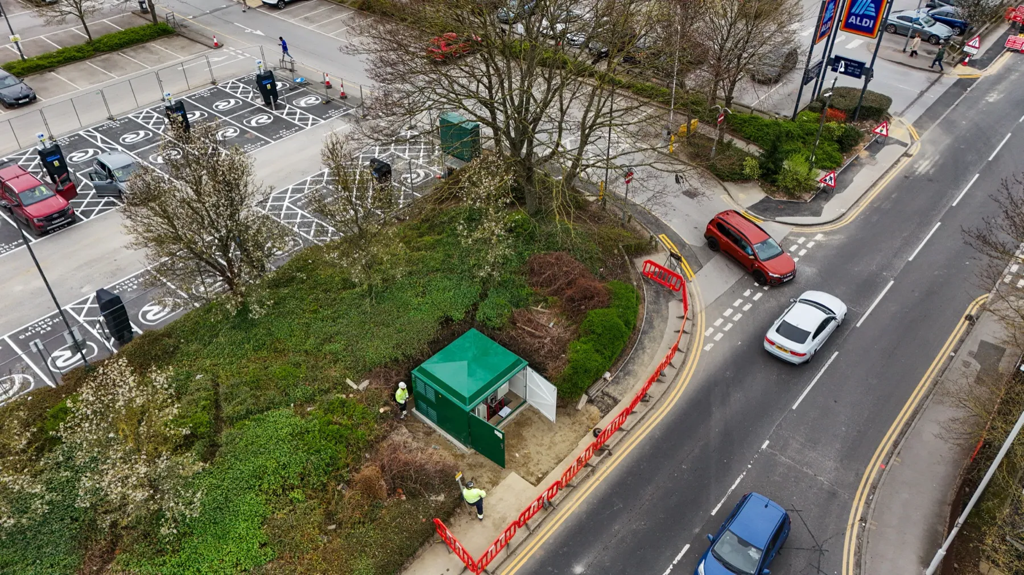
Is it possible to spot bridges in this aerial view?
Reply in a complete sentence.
No, the photo shows no bridge.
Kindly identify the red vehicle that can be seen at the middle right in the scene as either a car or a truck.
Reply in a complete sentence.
From above, the red vehicle that can be seen at the middle right can be identified as a car.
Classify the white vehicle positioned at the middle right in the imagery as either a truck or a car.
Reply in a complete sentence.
In the photo, the white vehicle positioned at the middle right shows up as a car.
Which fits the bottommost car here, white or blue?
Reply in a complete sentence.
In this view, the bottommost car is blue.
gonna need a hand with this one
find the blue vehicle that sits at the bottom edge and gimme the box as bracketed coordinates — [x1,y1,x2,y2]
[699,496,796,575]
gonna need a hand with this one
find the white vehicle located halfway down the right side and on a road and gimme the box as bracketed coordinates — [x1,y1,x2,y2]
[770,286,849,358]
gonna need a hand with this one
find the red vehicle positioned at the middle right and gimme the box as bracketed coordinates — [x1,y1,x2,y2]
[709,207,799,282]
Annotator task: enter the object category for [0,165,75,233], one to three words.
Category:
car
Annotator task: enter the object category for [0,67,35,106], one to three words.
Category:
car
